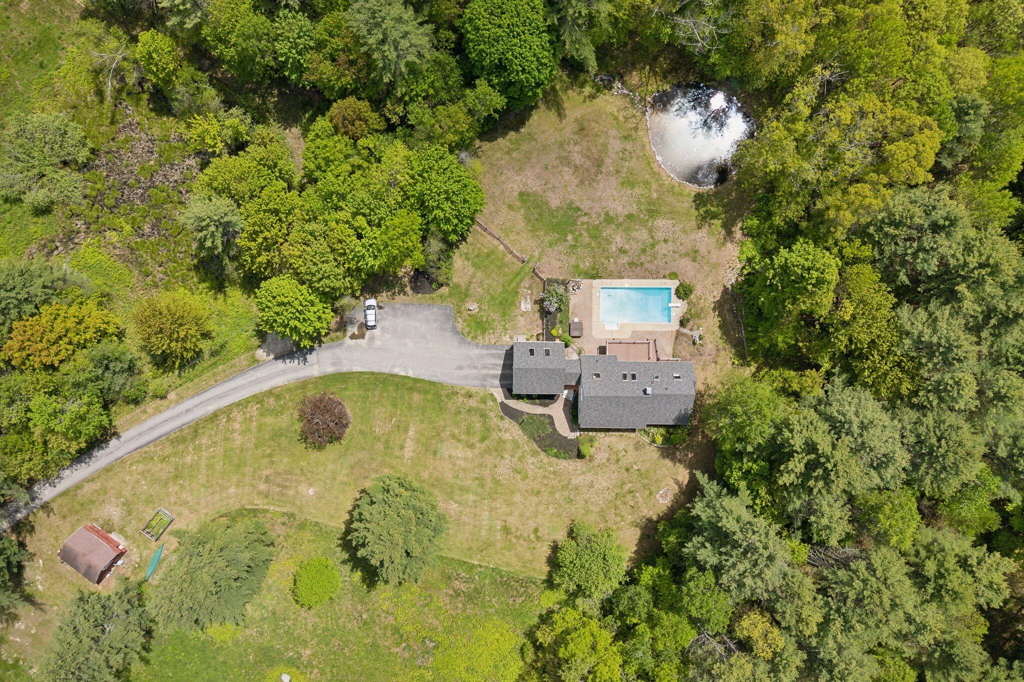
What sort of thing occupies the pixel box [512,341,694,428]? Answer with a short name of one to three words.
house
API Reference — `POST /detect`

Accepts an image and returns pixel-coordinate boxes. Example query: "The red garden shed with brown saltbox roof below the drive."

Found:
[58,521,129,590]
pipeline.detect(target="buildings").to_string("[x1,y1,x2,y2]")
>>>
[58,521,129,590]
[512,341,694,428]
